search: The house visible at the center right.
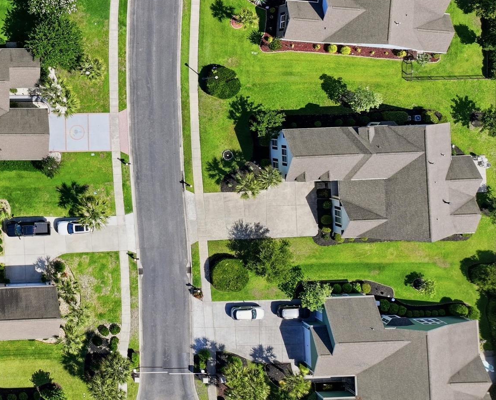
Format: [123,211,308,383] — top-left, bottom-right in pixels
[270,120,485,242]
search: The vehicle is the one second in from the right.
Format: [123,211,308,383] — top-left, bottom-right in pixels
[230,305,265,324]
